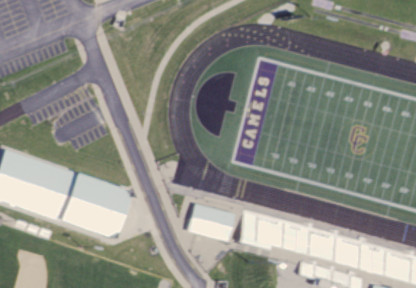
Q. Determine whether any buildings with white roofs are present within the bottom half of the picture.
Yes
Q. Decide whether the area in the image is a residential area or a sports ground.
sports ground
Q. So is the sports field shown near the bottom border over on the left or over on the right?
left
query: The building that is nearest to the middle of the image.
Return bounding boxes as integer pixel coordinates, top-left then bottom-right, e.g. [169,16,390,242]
[184,204,236,242]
